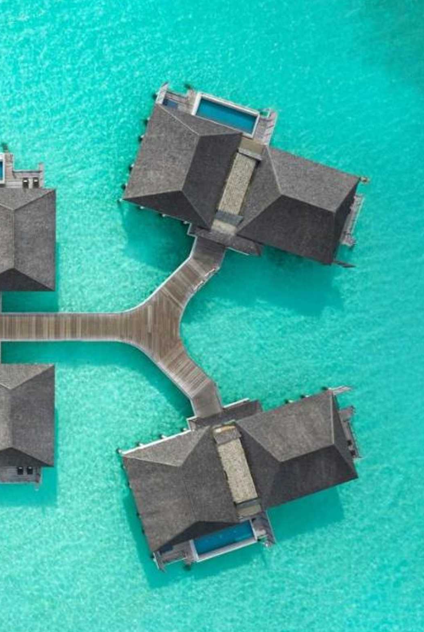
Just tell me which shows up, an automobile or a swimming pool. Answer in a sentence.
The one in the frame is a swimming pool.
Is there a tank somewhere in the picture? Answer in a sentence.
No, the photo shows no tank.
